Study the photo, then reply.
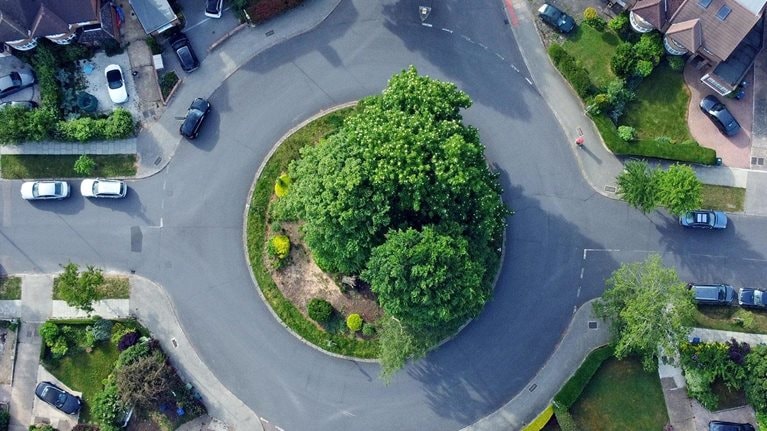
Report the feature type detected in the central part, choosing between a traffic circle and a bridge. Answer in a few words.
traffic circle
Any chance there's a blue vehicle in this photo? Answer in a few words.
Yes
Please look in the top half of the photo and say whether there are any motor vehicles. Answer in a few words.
Yes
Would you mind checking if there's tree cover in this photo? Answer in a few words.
Yes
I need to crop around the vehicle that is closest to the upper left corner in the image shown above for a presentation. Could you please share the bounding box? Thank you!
[0,70,35,99]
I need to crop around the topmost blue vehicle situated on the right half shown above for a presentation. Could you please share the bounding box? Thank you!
[535,0,579,37]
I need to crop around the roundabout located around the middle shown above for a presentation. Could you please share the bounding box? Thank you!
[243,99,506,361]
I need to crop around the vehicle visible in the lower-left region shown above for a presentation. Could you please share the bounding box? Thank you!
[32,380,82,414]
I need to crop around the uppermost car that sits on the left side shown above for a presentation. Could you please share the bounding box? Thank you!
[204,0,227,20]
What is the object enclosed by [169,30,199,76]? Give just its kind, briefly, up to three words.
car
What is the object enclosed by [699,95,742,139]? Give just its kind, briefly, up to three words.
car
